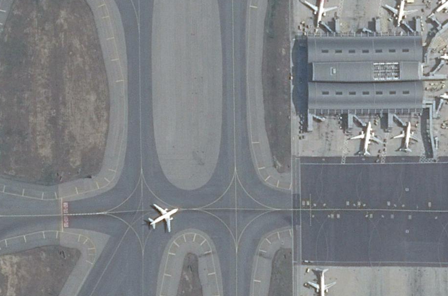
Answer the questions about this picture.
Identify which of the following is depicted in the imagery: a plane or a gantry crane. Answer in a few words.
plane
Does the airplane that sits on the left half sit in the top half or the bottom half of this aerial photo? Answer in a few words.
bottom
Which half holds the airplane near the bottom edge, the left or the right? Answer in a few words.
right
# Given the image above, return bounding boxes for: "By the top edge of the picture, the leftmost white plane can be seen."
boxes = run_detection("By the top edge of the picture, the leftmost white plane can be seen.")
[305,0,338,31]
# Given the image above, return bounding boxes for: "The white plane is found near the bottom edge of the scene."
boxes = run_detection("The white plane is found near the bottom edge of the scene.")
[309,269,338,296]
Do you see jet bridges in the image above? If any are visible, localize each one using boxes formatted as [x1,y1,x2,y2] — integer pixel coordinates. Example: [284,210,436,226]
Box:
[319,22,335,34]
[437,99,445,117]
[401,21,416,34]
[433,15,444,29]
[313,115,326,123]
[353,114,367,129]
[363,27,374,34]
[432,60,444,74]
[393,114,408,128]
